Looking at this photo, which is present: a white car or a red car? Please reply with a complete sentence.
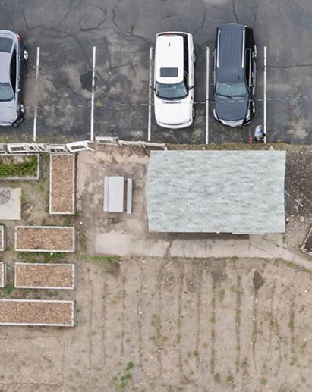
The image shows a white car.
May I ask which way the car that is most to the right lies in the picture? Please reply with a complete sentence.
The car that is most to the right has been laid out vertically relative to the frame.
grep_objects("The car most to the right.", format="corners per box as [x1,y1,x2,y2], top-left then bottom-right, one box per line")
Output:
[208,20,255,128]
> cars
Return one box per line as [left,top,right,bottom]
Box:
[147,32,196,129]
[208,20,255,128]
[0,30,26,128]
